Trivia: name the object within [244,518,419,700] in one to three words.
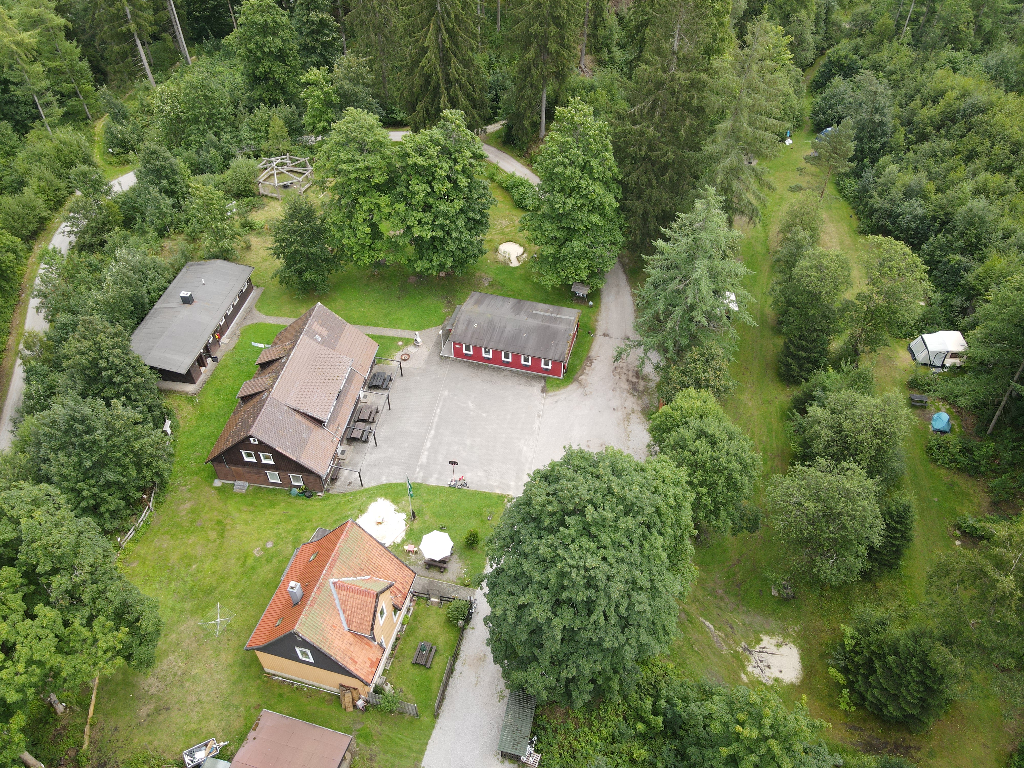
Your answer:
house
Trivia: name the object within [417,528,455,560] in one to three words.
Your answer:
umbrella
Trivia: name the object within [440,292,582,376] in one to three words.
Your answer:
house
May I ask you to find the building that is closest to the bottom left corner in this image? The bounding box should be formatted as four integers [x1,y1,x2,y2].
[230,708,353,768]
